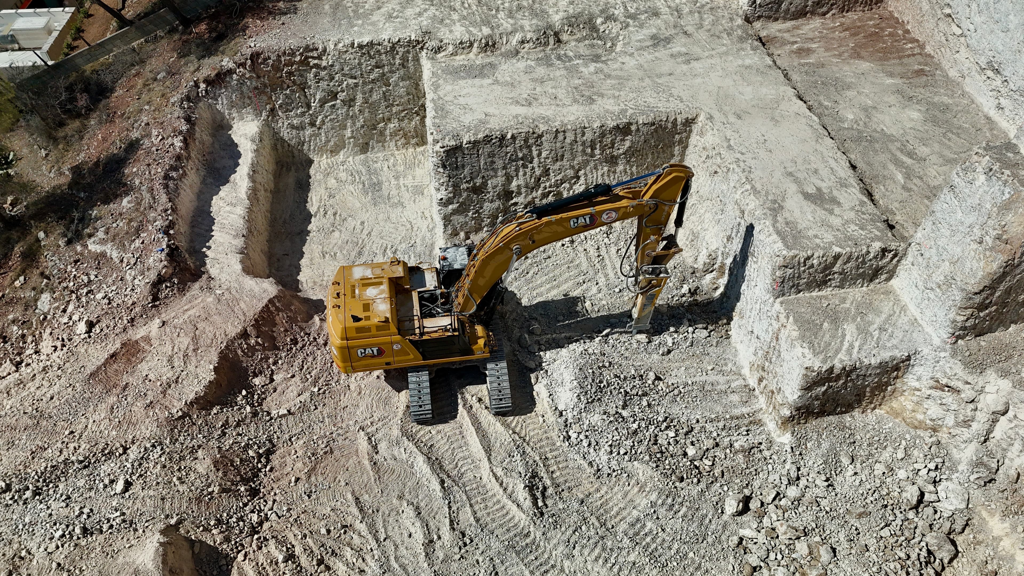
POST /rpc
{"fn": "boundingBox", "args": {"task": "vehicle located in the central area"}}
[329,160,692,427]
